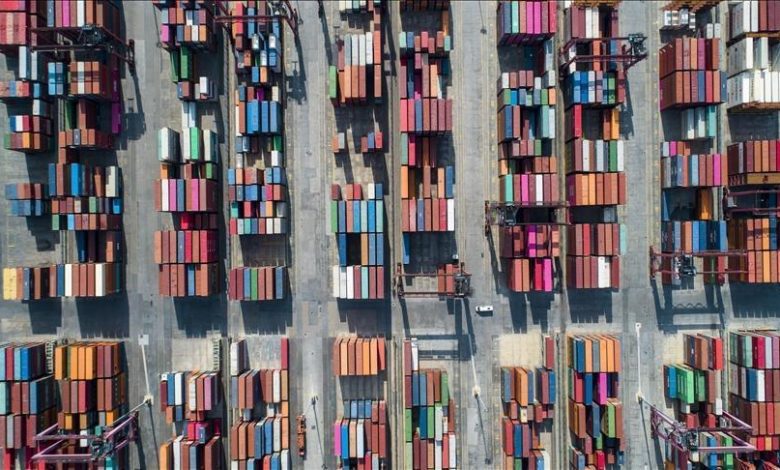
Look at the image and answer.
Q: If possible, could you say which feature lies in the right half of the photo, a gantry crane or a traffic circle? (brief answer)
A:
gantry crane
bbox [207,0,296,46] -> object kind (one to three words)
container crane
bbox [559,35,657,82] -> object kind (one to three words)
container crane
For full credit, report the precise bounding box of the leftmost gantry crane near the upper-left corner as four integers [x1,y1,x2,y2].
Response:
[24,25,132,72]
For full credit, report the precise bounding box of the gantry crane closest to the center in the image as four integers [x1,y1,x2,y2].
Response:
[394,264,475,299]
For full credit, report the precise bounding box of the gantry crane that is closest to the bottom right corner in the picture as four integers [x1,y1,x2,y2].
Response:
[653,404,759,452]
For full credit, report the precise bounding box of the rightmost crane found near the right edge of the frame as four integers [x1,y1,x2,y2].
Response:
[726,190,780,219]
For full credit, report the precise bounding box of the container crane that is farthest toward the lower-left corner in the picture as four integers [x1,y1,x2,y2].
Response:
[30,411,137,462]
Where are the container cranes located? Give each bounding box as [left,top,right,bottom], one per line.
[30,411,137,462]
[394,264,475,299]
[207,0,296,46]
[651,245,756,276]
[653,404,759,452]
[726,190,780,219]
[24,25,132,72]
[559,35,657,82]
[486,199,574,232]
